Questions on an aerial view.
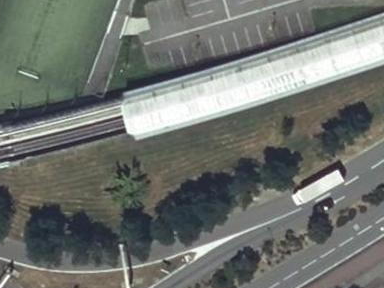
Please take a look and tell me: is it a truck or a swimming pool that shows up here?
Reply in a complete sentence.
Visible in the photo is a truck.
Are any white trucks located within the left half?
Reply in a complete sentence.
No, no white truck can be made out within the left half.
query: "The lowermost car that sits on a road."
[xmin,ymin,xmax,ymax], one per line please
[314,196,334,212]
